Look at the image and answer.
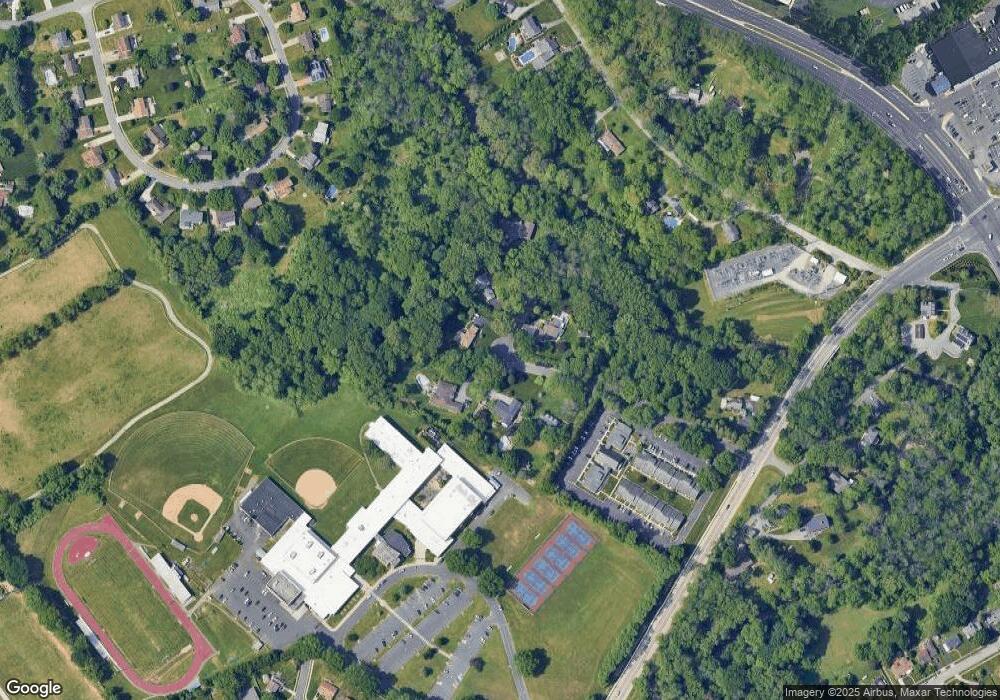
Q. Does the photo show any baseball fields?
Yes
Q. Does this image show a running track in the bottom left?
Yes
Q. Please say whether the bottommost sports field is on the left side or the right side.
left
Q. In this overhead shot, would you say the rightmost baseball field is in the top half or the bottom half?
bottom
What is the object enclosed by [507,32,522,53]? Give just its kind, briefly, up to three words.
swimming pool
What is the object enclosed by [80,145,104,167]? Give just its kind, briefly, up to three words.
house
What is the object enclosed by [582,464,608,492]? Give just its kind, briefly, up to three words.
house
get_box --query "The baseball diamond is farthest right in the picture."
[266,437,363,510]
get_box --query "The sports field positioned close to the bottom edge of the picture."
[61,532,201,690]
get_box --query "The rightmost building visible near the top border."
[932,21,1000,95]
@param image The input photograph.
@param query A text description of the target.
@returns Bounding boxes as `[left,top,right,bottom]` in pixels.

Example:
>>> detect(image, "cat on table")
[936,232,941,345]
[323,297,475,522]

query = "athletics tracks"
[51,509,223,699]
